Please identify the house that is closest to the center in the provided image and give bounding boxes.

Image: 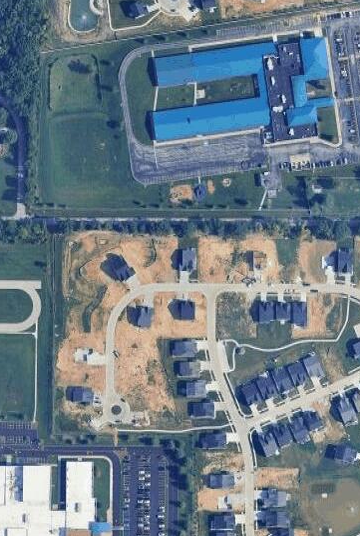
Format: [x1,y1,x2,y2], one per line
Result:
[180,243,196,270]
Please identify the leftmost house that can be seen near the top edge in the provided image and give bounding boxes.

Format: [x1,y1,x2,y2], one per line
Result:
[118,0,148,19]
